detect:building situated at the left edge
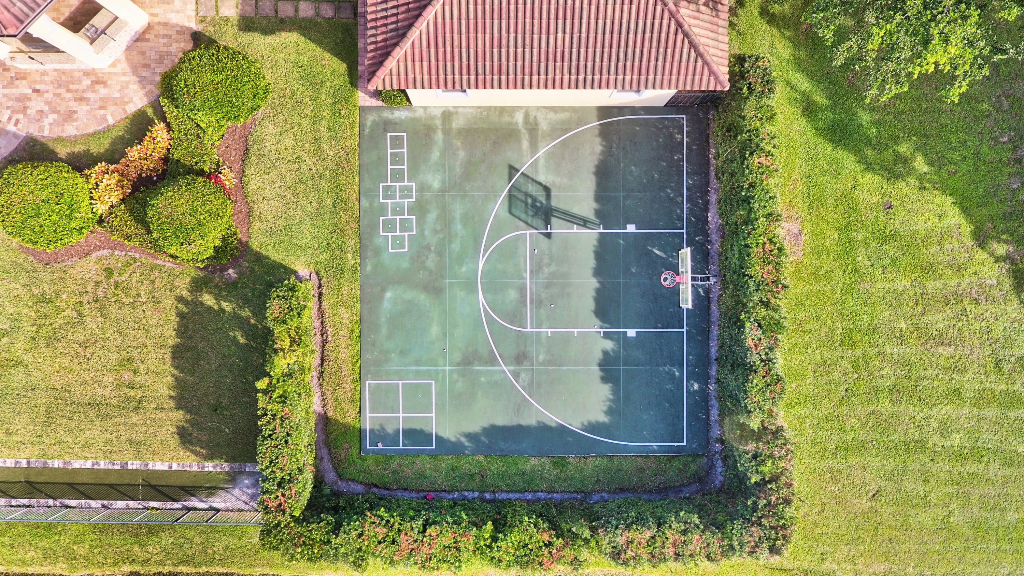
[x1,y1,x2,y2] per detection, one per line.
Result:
[0,0,147,68]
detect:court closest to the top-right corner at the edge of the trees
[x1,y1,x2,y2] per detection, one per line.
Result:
[359,106,709,455]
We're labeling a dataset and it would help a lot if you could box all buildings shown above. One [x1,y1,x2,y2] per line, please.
[363,0,736,106]
[0,0,147,68]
